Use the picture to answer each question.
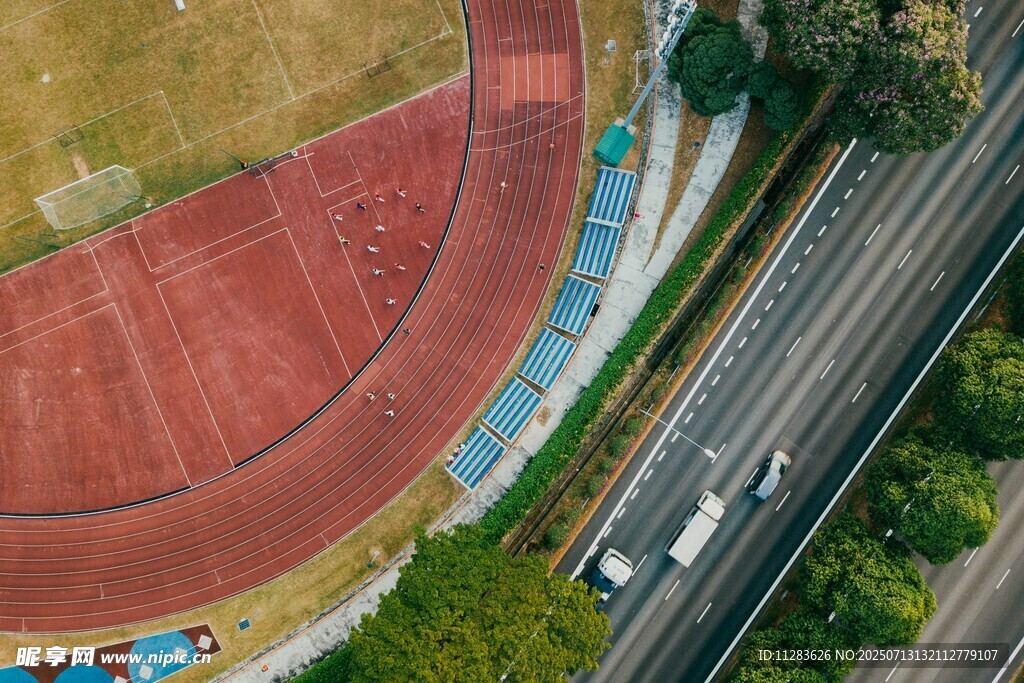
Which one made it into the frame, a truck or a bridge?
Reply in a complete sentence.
Visible in the photo is a truck.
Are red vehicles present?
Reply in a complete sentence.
No, no red vehicle is visible in the view.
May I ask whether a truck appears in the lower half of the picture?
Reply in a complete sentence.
Yes, there is a truck in the lower half of the picture.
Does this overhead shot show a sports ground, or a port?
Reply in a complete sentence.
The picture captures a sports ground.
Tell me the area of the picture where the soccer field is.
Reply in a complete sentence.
The soccer field sits in the top left section of the image.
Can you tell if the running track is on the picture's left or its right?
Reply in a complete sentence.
The running track appears in the left half of the scene.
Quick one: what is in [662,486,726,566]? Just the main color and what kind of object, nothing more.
white truck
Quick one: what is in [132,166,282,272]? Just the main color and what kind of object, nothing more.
red sports court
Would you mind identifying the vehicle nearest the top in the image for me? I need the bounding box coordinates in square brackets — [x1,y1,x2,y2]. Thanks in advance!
[750,451,794,503]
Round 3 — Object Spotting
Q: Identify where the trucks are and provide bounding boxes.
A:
[662,486,726,566]
[570,545,634,613]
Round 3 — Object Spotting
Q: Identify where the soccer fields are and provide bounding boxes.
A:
[0,0,469,275]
